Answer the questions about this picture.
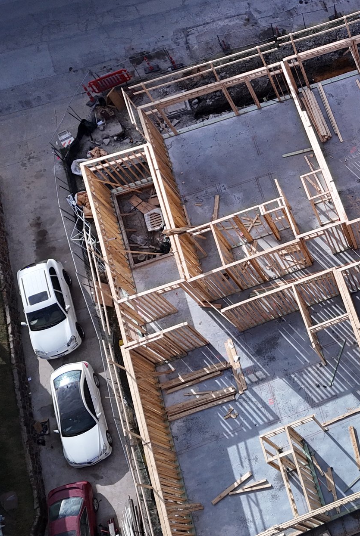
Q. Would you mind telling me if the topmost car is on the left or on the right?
left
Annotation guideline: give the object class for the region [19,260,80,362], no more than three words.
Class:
car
